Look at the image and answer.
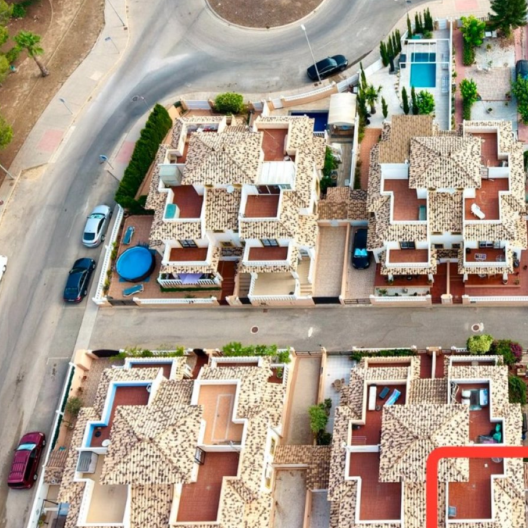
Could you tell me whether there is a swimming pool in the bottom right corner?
No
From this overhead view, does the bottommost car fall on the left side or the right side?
left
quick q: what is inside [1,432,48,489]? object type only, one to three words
car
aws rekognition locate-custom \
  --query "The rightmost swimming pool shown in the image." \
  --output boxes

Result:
[406,49,440,90]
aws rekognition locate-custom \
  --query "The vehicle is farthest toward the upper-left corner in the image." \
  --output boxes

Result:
[81,205,113,244]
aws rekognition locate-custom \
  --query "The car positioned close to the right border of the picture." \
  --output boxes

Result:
[513,60,528,81]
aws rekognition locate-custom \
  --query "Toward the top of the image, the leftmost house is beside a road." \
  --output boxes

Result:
[135,115,318,284]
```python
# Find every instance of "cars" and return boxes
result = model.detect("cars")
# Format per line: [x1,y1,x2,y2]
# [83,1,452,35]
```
[348,230,373,270]
[1,432,48,489]
[81,205,113,244]
[61,258,96,301]
[513,60,528,81]
[307,54,349,80]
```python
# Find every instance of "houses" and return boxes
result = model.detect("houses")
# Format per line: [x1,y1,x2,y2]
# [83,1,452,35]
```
[362,109,528,288]
[324,359,528,528]
[51,359,279,528]
[135,115,318,284]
